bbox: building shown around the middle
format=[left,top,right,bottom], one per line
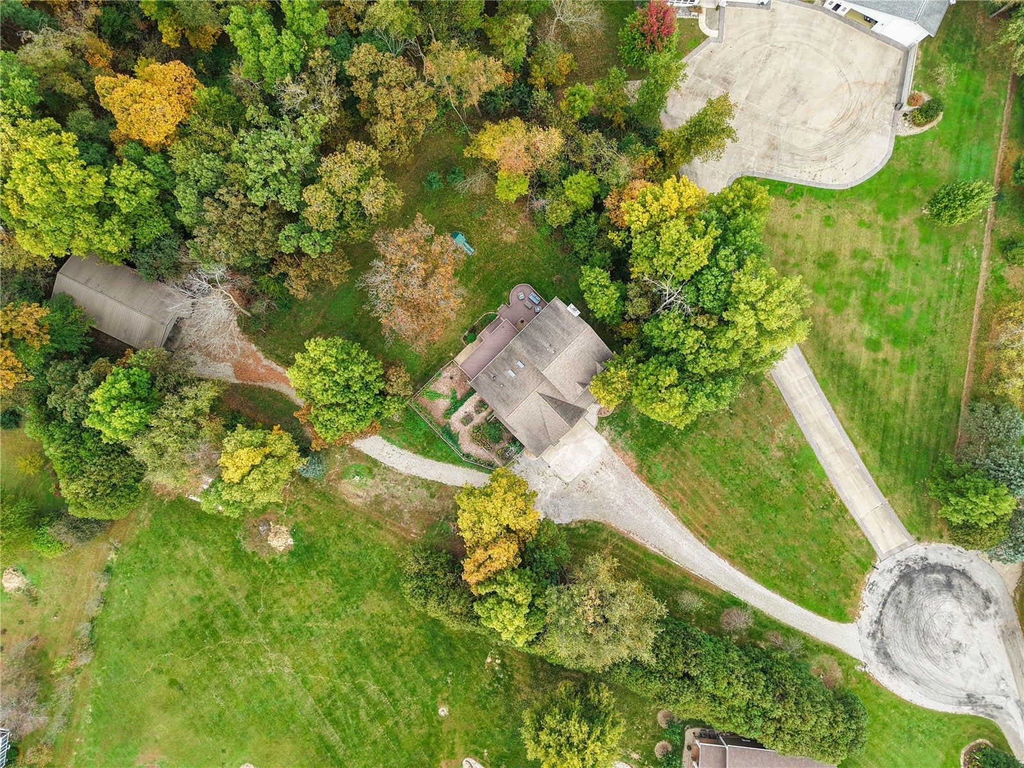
[468,297,616,455]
